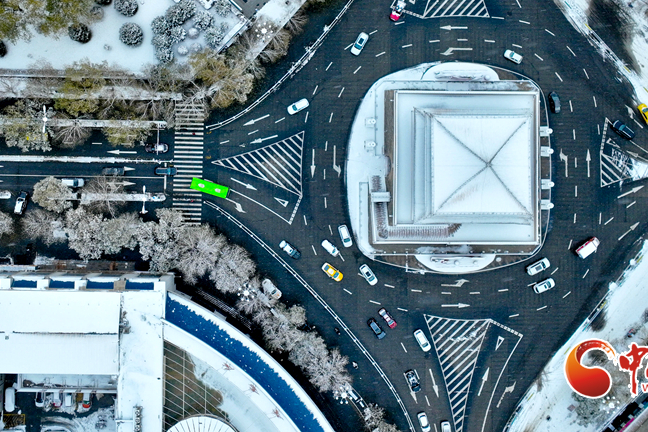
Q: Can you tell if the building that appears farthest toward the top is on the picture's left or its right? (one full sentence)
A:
The building that appears farthest toward the top sits on the right side.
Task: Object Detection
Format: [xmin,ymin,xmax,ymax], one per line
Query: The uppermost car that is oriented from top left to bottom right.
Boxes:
[502,48,523,65]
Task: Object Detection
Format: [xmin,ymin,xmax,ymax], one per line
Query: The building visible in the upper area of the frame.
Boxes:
[368,81,547,255]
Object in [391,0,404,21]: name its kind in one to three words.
vehicle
